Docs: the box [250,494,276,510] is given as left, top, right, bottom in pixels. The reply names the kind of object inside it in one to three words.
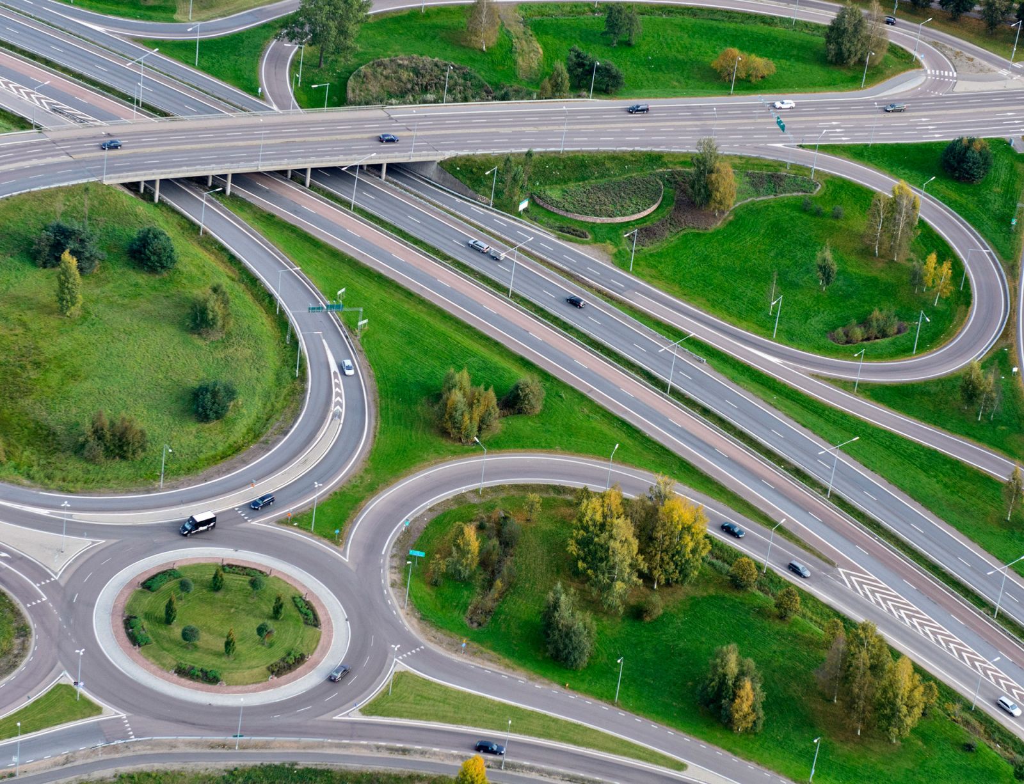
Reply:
car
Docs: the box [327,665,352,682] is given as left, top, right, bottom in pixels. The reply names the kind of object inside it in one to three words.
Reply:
car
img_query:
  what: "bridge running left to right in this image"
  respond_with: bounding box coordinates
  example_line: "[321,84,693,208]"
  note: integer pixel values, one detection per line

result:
[41,103,493,213]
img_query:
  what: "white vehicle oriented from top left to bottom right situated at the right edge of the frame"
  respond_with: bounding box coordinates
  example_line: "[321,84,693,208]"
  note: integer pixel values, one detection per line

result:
[995,696,1023,716]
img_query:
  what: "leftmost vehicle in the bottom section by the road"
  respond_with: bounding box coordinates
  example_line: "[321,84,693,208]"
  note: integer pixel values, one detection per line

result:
[182,511,215,536]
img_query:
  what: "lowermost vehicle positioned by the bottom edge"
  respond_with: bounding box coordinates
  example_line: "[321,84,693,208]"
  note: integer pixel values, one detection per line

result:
[475,739,504,756]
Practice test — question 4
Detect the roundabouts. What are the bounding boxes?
[0,507,769,784]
